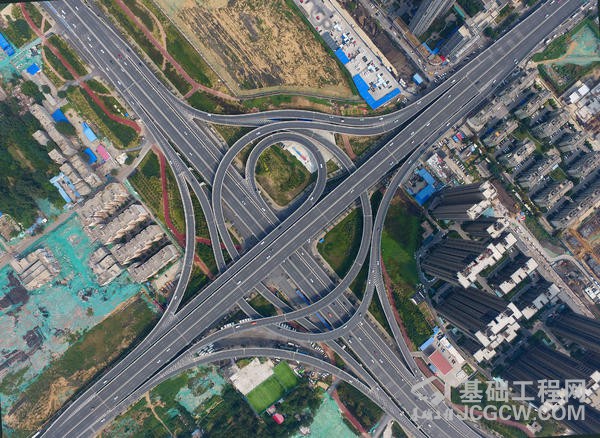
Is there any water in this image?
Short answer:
No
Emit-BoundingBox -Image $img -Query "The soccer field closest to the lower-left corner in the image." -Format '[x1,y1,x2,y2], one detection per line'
[247,374,286,417]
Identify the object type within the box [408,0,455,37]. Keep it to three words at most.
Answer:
building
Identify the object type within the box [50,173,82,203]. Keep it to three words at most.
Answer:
shed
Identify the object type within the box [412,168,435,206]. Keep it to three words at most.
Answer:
shed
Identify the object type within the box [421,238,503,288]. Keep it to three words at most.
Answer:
building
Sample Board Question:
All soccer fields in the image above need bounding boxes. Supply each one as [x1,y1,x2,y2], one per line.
[247,374,286,417]
[274,361,299,392]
